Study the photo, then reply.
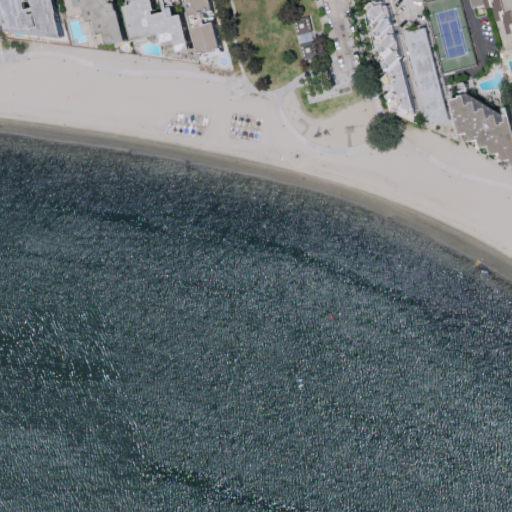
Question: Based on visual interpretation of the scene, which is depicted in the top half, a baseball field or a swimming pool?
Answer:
swimming pool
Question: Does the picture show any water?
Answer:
Yes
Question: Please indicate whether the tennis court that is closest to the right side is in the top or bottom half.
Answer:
top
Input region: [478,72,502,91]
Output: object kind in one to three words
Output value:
swimming pool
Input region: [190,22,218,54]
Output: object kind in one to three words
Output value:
house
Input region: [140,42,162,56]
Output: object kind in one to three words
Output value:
swimming pool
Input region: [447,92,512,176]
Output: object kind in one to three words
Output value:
building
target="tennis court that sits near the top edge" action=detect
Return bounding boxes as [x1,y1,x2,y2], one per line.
[428,0,477,72]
